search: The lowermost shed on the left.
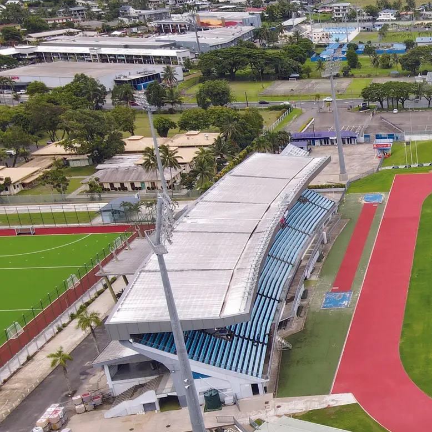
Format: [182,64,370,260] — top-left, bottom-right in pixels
[94,192,150,224]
